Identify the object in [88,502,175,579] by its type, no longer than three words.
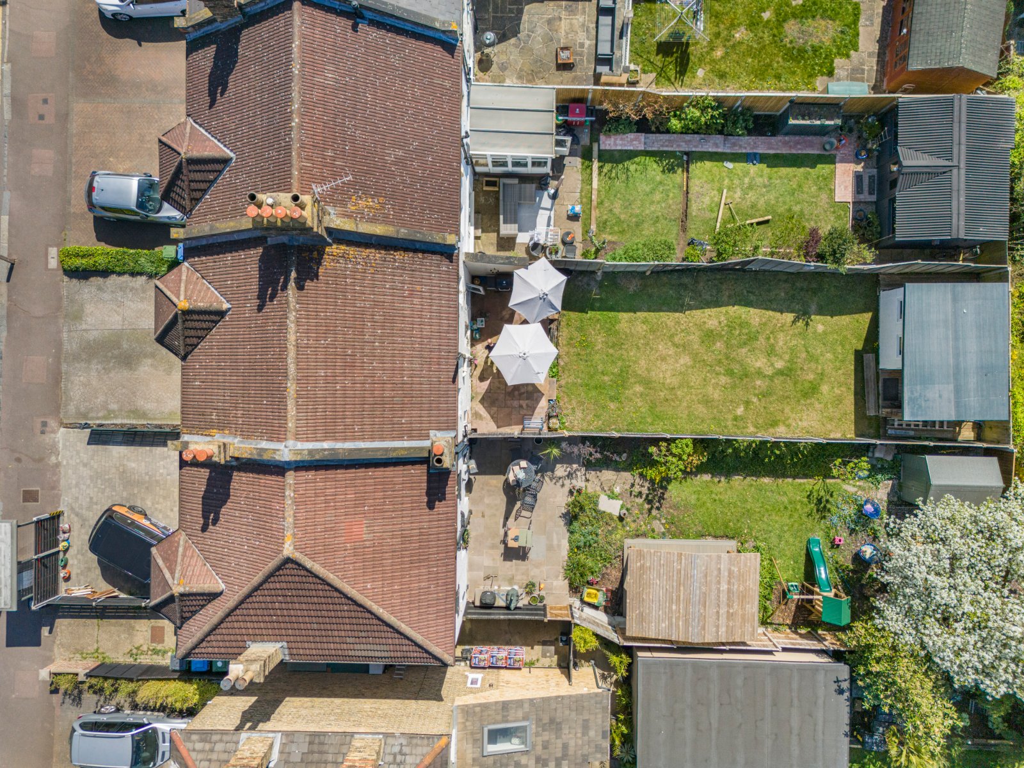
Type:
car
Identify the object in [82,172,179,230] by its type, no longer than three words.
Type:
car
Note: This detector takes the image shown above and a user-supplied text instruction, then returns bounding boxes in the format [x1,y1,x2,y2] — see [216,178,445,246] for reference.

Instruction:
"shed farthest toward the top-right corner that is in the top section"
[885,0,1001,93]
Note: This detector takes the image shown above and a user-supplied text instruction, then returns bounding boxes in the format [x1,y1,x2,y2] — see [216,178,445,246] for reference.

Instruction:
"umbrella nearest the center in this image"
[490,324,558,385]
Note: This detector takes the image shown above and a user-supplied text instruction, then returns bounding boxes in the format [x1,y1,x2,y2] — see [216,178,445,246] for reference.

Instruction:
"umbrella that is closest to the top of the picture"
[509,258,567,322]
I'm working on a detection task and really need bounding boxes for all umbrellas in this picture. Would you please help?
[509,258,567,322]
[490,324,558,385]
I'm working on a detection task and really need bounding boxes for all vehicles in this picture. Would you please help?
[75,704,192,768]
[90,0,182,22]
[82,172,179,230]
[88,502,175,579]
